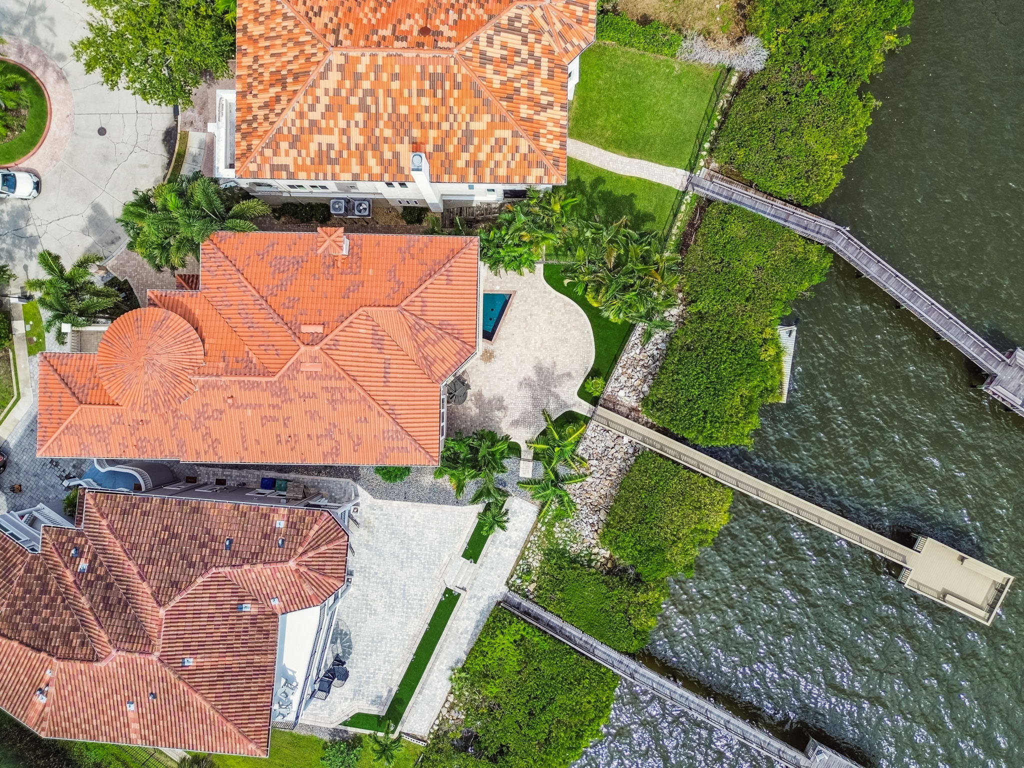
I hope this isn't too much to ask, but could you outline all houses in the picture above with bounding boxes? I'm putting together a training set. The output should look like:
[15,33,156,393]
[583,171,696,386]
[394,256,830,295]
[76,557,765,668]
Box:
[206,0,598,212]
[0,459,373,759]
[34,225,483,468]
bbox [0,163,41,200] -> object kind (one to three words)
car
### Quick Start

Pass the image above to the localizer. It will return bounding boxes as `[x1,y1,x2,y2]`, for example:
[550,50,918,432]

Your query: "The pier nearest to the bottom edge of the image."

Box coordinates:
[501,587,885,768]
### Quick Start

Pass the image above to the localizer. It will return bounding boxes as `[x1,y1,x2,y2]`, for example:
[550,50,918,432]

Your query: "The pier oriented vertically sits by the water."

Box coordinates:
[762,323,803,403]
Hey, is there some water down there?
Yes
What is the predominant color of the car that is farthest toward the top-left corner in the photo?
white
